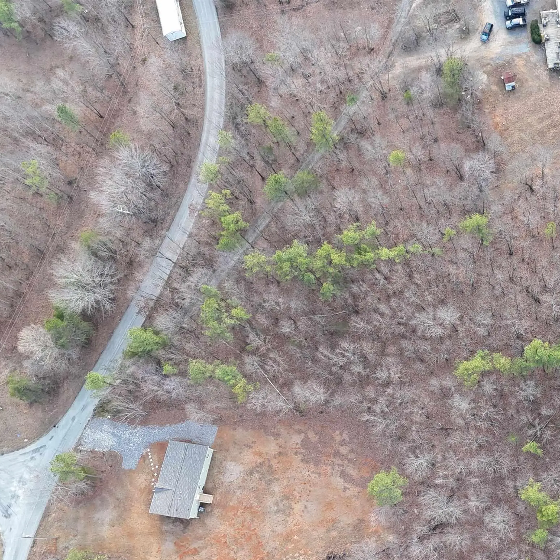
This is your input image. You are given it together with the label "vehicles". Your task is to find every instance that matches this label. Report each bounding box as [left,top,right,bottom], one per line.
[508,0,531,9]
[505,8,525,20]
[506,18,527,30]
[481,23,493,42]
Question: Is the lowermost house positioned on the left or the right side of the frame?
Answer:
left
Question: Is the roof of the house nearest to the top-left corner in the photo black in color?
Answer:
No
